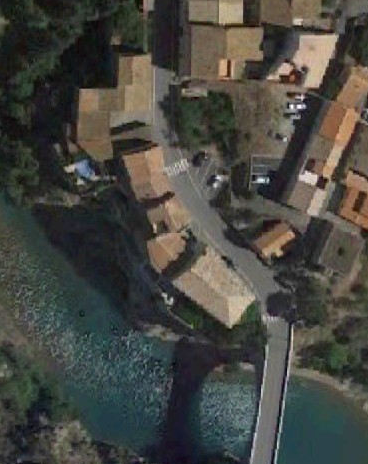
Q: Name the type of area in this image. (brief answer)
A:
residential area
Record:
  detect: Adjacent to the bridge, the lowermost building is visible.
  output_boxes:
[163,248,256,327]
